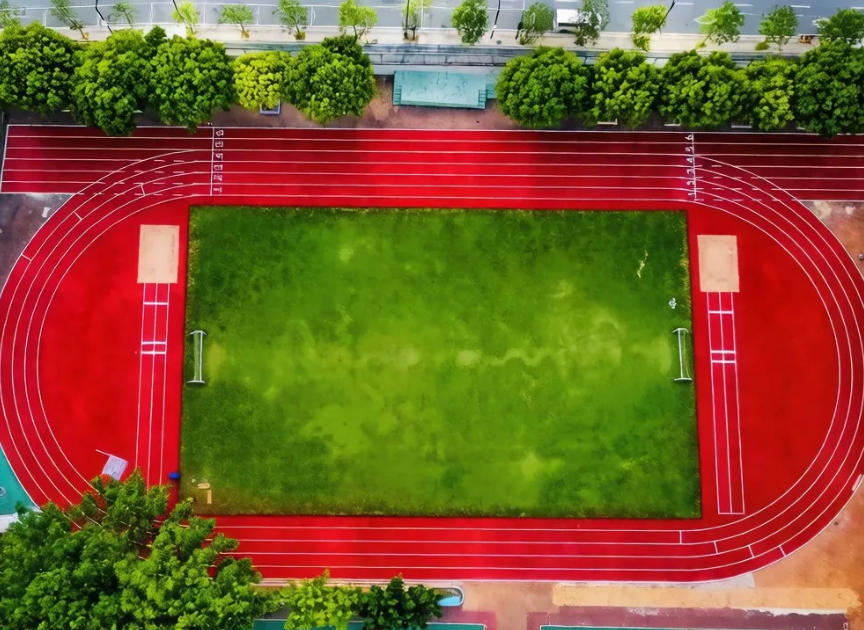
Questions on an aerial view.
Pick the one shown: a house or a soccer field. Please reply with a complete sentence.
I can see a soccer field in this picture.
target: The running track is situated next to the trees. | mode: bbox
[0,124,864,583]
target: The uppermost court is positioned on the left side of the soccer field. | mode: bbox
[0,444,36,511]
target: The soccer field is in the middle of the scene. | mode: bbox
[179,205,703,520]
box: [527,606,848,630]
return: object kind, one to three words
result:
sports court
